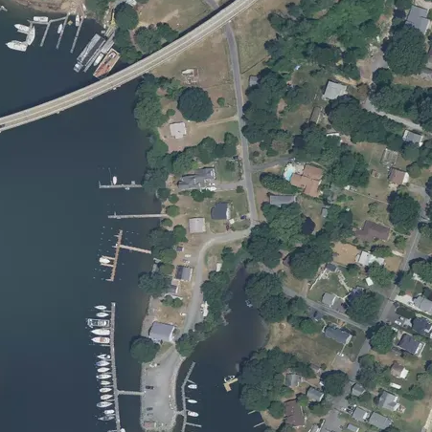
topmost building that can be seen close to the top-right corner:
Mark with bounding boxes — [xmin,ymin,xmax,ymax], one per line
[405,4,429,28]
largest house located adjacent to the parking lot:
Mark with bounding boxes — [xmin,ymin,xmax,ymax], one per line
[147,321,175,344]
